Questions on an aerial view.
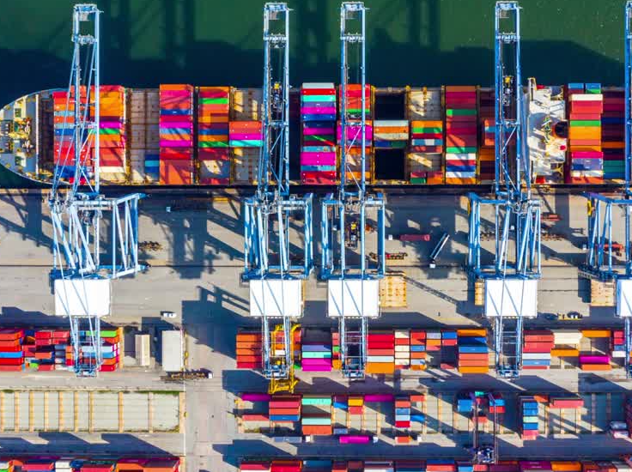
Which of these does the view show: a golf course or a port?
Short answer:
port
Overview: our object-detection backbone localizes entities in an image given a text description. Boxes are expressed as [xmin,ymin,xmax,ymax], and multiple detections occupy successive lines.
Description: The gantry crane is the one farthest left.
[45,3,158,380]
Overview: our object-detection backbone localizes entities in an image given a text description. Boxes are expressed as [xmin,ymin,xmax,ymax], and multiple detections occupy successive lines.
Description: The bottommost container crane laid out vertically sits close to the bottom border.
[464,390,499,470]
